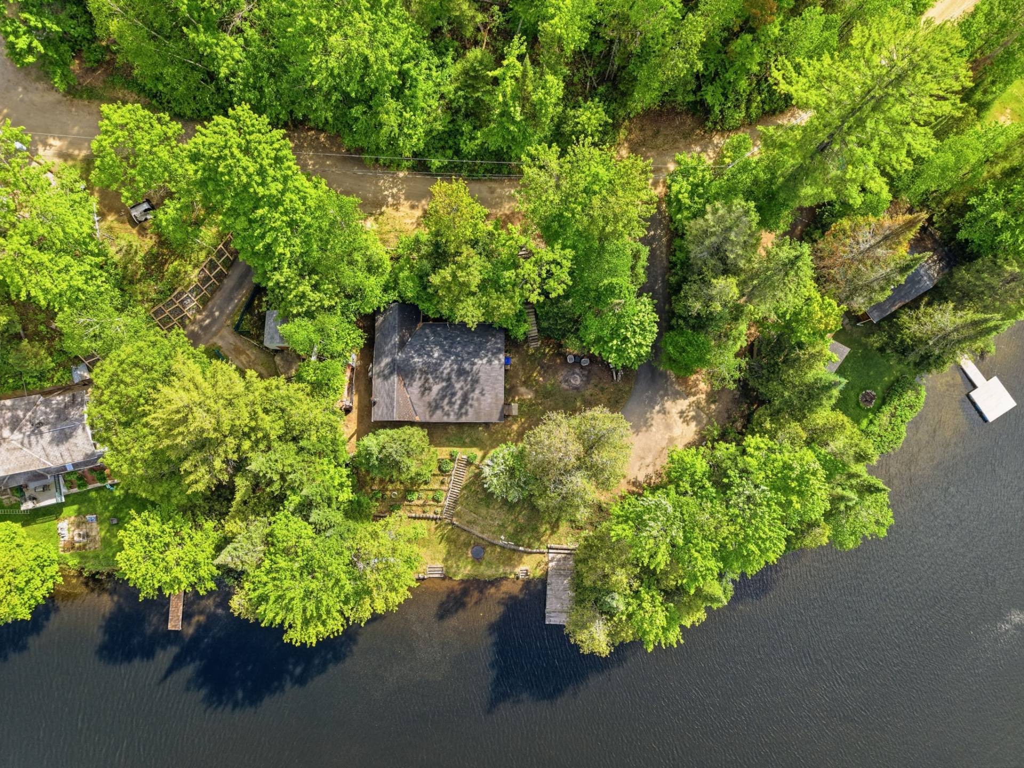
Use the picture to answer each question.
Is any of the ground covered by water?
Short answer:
Yes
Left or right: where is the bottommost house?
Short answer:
left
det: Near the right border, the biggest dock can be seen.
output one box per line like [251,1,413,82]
[968,376,1016,422]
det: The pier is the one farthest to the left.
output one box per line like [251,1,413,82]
[168,581,186,631]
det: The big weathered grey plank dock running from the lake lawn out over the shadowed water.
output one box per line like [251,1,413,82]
[543,556,574,625]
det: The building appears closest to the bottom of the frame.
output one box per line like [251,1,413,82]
[0,390,103,490]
